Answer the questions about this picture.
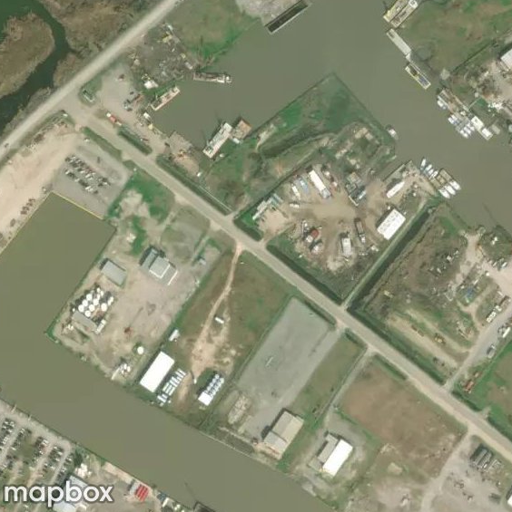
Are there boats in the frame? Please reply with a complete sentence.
Yes, the photo shows a boat.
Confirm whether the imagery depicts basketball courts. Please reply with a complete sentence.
No, I find no basketball court anywhere in the image.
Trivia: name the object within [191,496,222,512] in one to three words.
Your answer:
ship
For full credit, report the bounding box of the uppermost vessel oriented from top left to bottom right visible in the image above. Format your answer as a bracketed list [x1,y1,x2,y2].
[386,30,412,56]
